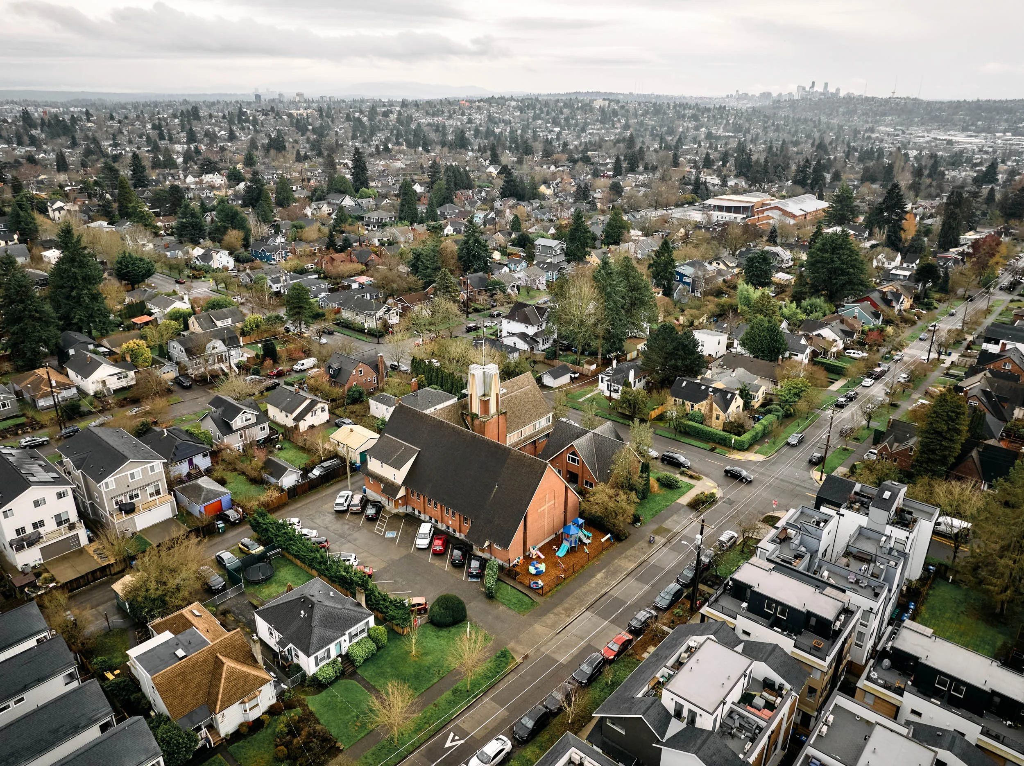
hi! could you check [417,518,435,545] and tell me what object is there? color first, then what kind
white car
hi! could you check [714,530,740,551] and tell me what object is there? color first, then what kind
gray car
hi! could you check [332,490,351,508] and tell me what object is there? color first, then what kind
white car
